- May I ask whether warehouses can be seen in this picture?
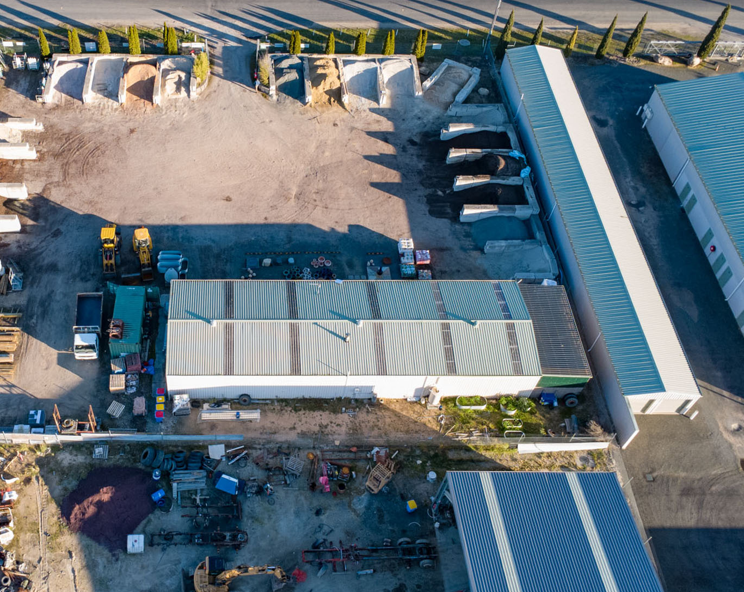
Yes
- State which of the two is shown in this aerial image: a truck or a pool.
truck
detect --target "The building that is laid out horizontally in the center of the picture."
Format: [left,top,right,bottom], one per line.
[166,274,543,400]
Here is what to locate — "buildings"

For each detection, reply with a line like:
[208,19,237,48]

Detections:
[643,74,744,337]
[501,46,704,447]
[166,274,543,400]
[420,469,667,592]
